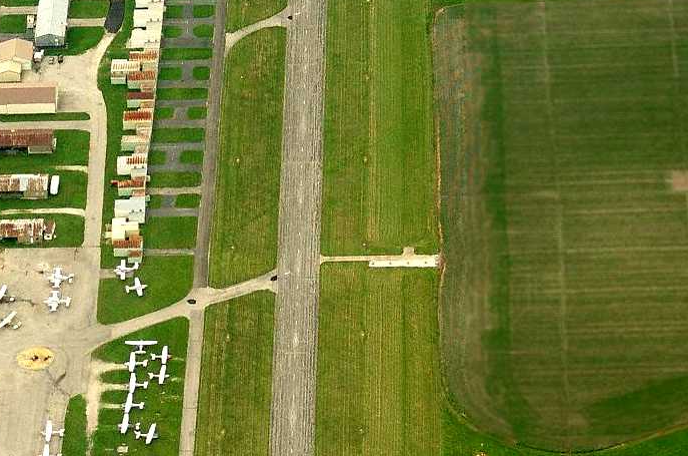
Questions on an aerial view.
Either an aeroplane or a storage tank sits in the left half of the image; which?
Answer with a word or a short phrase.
aeroplane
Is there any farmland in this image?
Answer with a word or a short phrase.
Yes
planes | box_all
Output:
[120,393,144,414]
[46,290,72,311]
[0,311,21,329]
[115,261,137,278]
[125,372,148,393]
[48,267,74,286]
[123,351,147,371]
[149,365,169,383]
[137,424,159,444]
[152,346,172,364]
[39,444,61,456]
[40,420,63,441]
[119,414,140,433]
[0,285,14,300]
[125,337,157,353]
[123,278,147,294]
